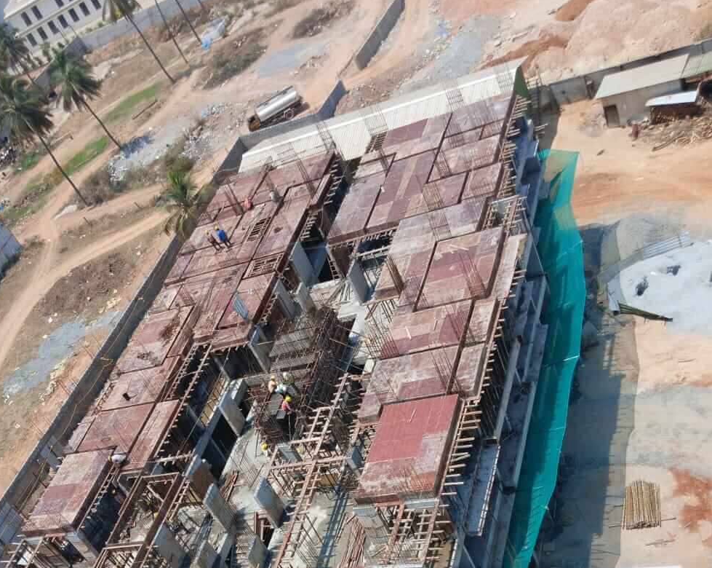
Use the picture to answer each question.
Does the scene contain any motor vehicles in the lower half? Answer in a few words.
No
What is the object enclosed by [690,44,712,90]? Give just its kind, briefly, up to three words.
shed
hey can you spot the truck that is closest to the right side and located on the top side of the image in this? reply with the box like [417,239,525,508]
[243,81,301,126]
